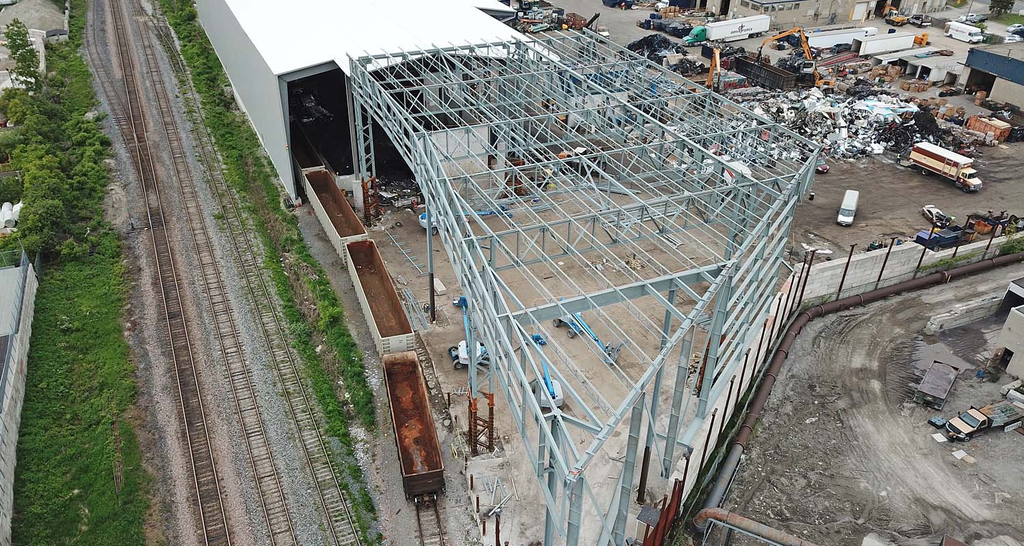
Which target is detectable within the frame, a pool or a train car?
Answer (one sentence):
This aerial view contains a train car.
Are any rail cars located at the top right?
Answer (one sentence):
No, I can find no rail car at the top right.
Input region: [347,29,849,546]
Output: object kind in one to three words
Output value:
building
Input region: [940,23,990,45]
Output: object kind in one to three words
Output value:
vehicle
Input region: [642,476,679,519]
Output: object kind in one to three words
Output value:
shed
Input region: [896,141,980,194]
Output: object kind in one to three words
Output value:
truck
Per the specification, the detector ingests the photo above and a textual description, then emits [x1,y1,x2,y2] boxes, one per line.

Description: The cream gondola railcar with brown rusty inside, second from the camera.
[345,239,417,369]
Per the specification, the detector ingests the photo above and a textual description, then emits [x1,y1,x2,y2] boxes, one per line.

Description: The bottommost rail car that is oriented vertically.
[383,352,446,508]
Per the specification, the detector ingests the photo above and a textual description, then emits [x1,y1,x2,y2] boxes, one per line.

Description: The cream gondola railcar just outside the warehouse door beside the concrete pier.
[304,168,368,260]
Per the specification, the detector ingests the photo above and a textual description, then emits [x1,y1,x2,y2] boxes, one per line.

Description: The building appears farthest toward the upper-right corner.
[959,41,1024,113]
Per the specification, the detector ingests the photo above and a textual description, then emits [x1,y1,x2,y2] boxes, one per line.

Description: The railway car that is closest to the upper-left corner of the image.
[293,116,327,185]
